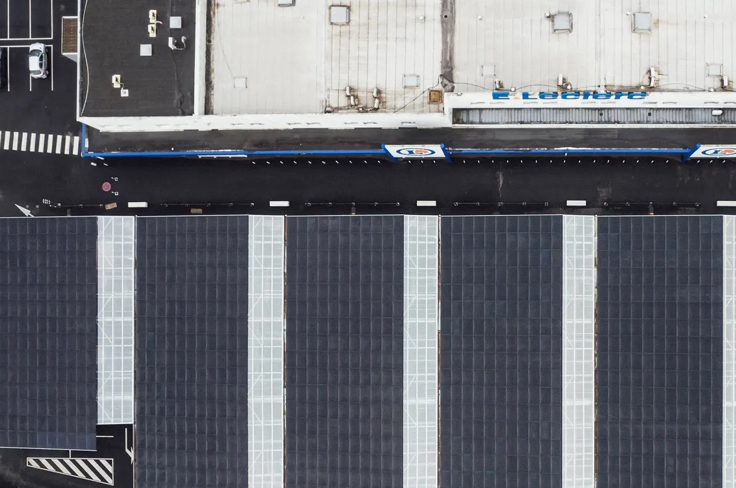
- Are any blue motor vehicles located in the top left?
No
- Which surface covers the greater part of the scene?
buildings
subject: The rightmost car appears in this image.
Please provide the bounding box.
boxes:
[27,43,51,79]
